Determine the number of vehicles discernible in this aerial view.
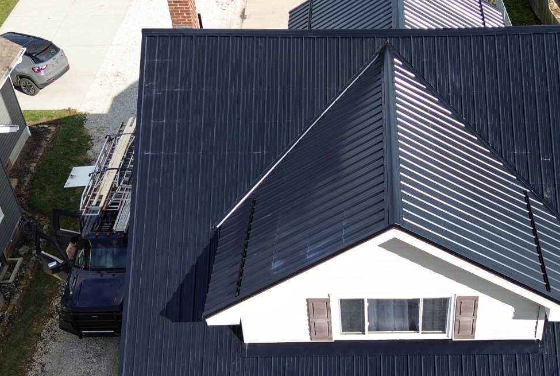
2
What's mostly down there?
buildings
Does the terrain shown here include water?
No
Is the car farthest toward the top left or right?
left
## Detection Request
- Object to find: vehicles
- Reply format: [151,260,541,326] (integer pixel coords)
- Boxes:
[43,119,134,328]
[2,33,74,94]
